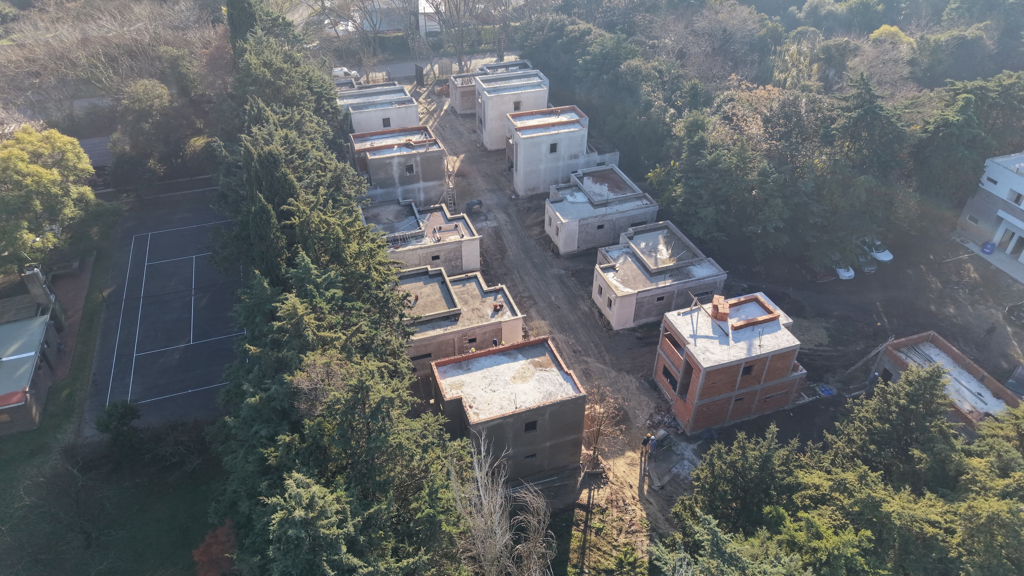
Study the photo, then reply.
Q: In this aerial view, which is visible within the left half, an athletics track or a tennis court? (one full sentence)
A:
Looking within the left half, you will find a tennis court.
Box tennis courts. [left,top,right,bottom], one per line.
[74,195,301,461]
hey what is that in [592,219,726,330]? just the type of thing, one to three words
house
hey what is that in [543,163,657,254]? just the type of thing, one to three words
house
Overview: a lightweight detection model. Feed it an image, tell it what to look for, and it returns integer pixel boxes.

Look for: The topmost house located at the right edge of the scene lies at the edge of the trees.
[962,151,1024,254]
